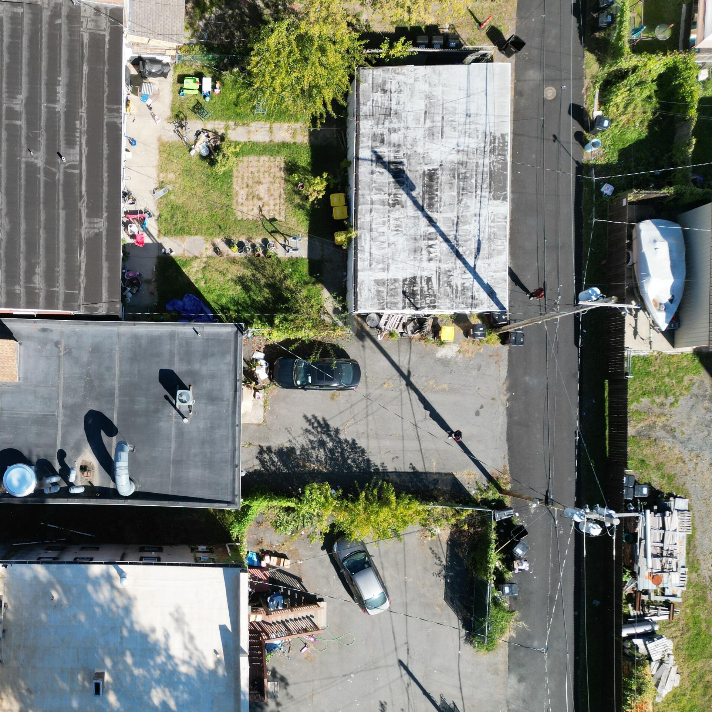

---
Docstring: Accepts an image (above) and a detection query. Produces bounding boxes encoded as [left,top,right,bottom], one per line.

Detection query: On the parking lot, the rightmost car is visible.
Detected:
[334,530,391,620]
